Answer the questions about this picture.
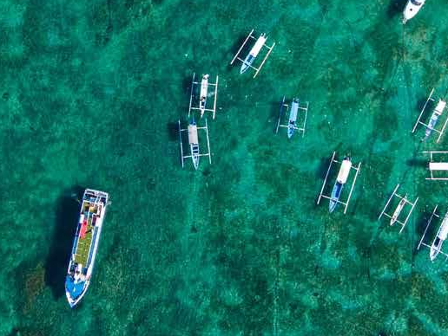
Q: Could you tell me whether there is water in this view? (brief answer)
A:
Yes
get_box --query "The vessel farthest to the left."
[67,187,115,308]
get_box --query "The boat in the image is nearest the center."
[178,117,212,169]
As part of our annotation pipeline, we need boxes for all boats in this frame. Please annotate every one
[423,152,448,180]
[412,90,448,143]
[380,185,418,233]
[317,153,361,213]
[402,0,425,24]
[418,206,448,261]
[232,29,274,78]
[190,72,219,118]
[277,95,309,139]
[178,117,212,169]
